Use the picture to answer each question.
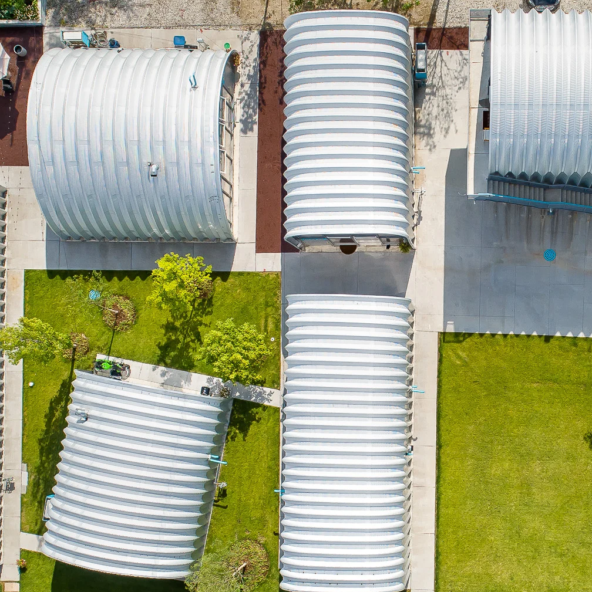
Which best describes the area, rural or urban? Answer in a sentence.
The land in this view is best described as urban.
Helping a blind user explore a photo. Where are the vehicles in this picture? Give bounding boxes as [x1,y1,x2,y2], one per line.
[527,0,559,8]
[92,361,129,378]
